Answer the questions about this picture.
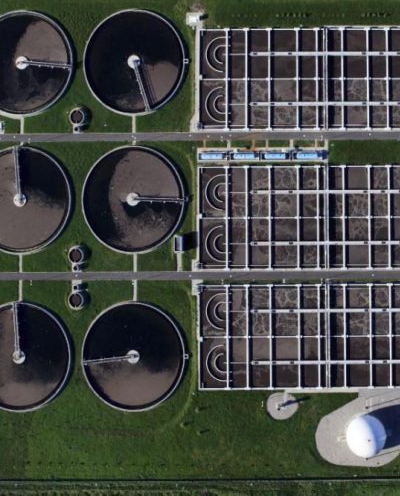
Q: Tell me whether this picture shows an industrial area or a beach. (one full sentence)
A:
The picture captures an industrial area.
